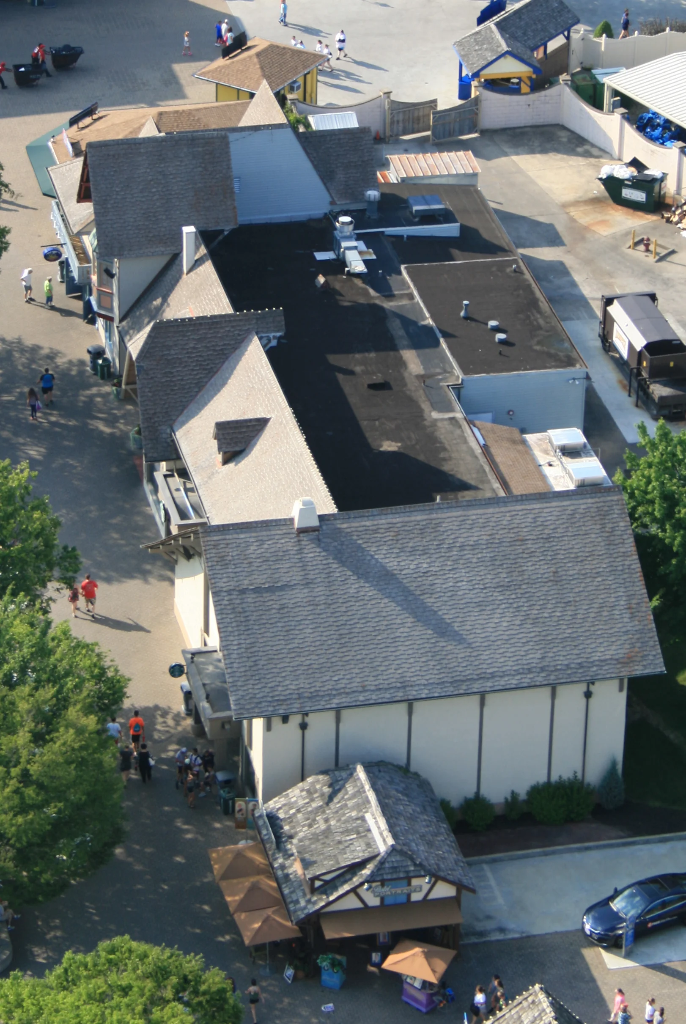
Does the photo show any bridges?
No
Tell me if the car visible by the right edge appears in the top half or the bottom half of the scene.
bottom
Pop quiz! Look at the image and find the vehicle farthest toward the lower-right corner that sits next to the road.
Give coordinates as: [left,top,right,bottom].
[577,870,686,947]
